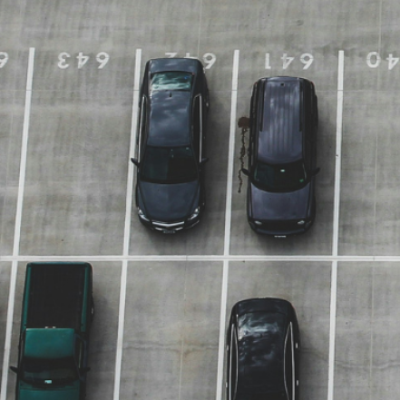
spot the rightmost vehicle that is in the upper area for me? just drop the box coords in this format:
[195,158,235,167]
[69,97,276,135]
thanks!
[237,76,325,238]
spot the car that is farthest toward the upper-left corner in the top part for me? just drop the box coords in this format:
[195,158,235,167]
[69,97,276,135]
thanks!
[125,57,214,236]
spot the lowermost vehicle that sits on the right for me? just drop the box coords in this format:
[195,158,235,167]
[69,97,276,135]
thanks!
[223,297,301,400]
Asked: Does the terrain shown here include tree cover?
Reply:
No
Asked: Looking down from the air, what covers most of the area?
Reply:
paved ground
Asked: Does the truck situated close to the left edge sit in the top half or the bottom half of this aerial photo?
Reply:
bottom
